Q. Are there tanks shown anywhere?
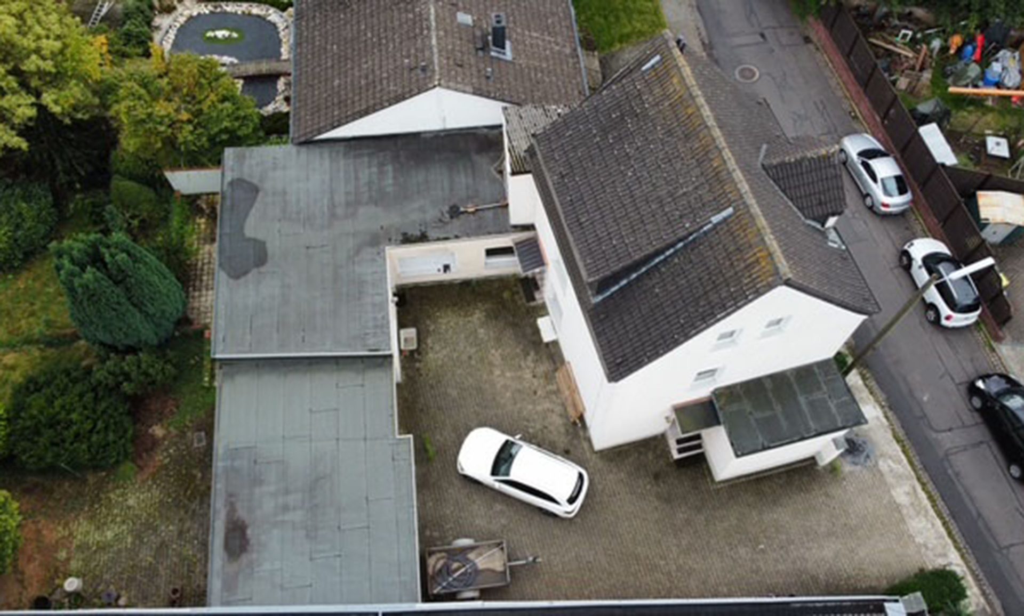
No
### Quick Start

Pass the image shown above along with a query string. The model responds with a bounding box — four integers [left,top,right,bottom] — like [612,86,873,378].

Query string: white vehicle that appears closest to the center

[461,437,587,518]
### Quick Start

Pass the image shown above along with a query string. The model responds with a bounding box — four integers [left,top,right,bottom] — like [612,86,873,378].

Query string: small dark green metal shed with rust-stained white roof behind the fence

[970,191,1024,248]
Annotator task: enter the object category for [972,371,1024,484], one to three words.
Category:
car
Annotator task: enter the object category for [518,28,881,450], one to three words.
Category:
house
